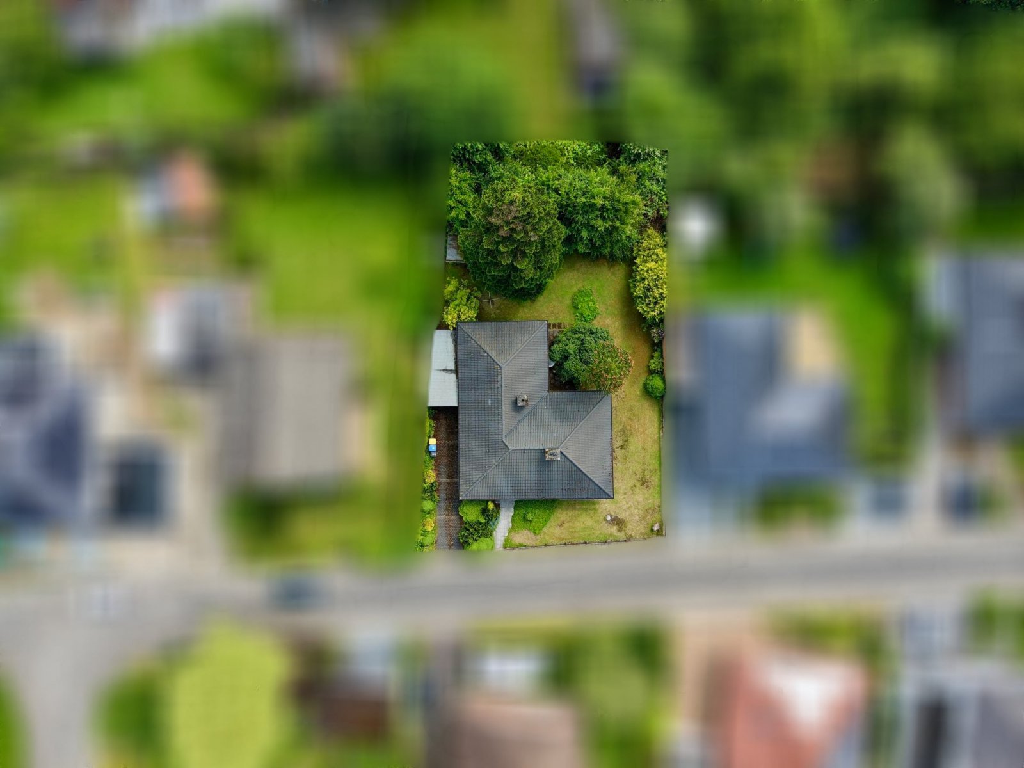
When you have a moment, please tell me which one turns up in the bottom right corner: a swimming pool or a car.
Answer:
car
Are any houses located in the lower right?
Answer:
Yes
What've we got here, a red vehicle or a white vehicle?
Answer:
white vehicle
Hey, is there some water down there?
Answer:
No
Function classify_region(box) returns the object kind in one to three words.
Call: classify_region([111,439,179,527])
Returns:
building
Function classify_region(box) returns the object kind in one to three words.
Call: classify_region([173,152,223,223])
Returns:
shed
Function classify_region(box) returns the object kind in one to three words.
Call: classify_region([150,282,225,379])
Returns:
building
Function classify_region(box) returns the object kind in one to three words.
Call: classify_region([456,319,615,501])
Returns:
house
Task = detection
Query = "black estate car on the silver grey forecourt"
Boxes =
[917,699,946,755]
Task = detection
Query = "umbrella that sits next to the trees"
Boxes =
[673,205,715,247]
